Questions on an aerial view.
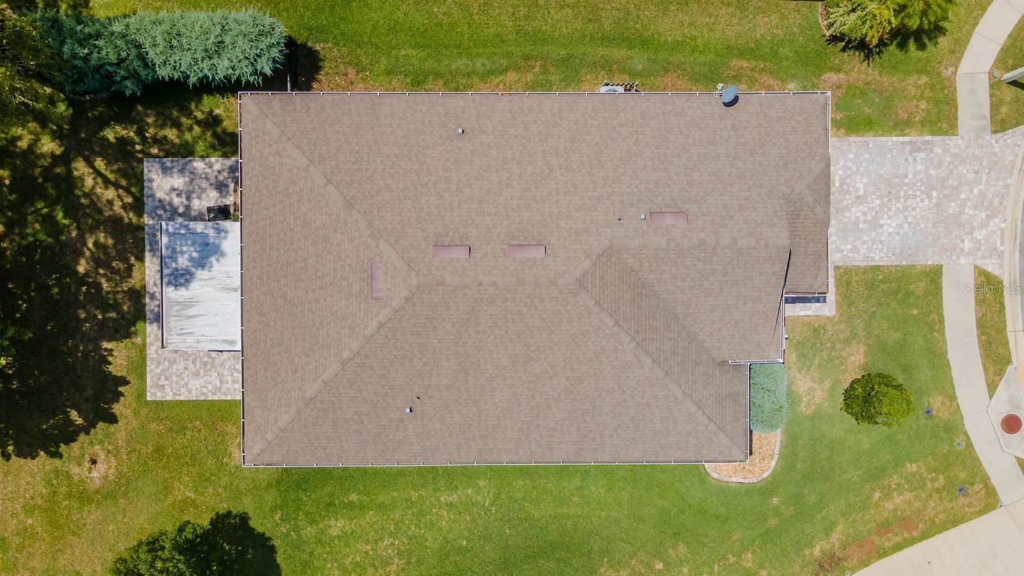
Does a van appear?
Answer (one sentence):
No, no van can be seen from above.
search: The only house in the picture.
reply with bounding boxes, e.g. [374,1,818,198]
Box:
[239,91,831,471]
